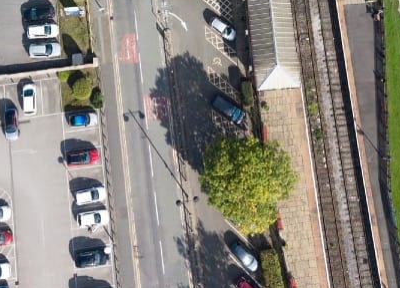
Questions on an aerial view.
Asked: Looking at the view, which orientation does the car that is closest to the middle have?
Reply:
diagonally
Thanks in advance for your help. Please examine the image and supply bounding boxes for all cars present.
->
[62,147,103,167]
[76,210,111,233]
[72,186,108,205]
[71,246,113,269]
[235,273,258,288]
[19,80,39,120]
[25,40,64,58]
[209,13,239,43]
[0,103,20,138]
[0,205,12,222]
[228,237,258,275]
[0,262,12,280]
[0,228,16,248]
[66,110,100,127]
[210,93,248,126]
[21,4,60,22]
[24,21,63,40]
